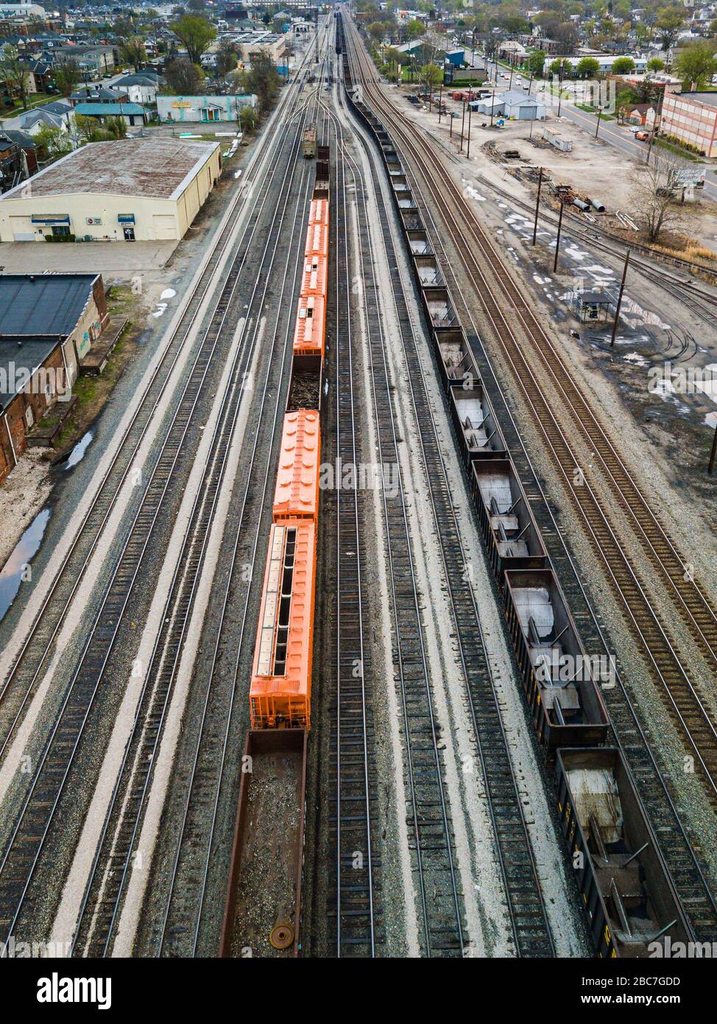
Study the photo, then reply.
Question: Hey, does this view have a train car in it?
Yes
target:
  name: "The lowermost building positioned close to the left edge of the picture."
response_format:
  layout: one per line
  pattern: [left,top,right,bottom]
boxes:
[0,274,117,487]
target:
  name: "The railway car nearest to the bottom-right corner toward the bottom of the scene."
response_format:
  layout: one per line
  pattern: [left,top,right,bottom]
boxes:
[551,748,717,1024]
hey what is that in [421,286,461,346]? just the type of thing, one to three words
rail car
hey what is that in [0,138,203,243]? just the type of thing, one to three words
building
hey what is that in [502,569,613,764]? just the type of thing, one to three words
rail car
